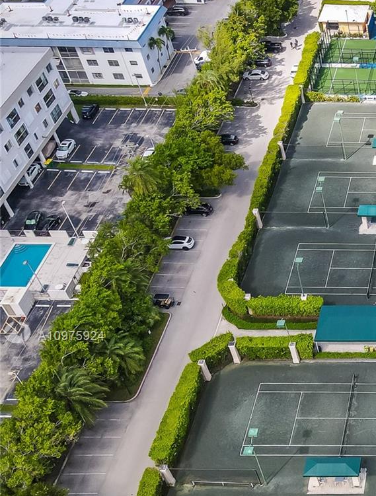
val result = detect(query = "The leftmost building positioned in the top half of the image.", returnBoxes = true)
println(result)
[0,44,77,215]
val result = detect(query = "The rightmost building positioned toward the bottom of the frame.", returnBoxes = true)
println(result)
[316,305,376,352]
